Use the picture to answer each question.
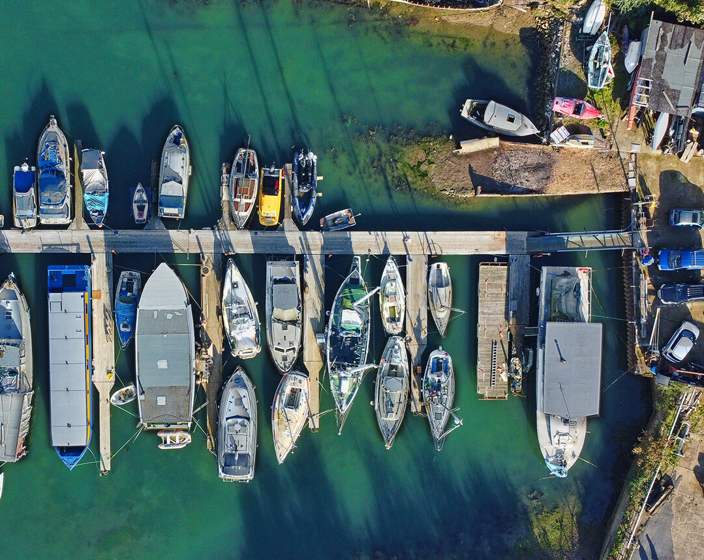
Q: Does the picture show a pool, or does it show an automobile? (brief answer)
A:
automobile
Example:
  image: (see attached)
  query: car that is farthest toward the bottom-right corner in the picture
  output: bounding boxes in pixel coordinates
[659,320,699,365]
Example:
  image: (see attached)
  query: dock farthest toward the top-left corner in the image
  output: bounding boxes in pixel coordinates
[67,140,90,230]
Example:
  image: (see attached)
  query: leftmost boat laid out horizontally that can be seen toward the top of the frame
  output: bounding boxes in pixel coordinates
[320,208,360,230]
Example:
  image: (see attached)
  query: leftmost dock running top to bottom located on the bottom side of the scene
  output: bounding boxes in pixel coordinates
[91,254,114,470]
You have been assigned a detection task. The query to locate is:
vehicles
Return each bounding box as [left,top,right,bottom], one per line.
[655,247,704,272]
[659,320,699,365]
[655,281,704,306]
[665,206,704,231]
